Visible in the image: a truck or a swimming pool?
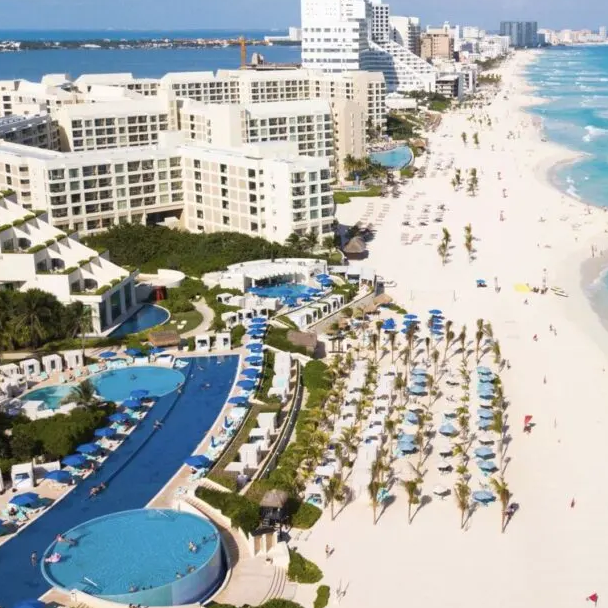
swimming pool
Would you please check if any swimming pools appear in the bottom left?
Yes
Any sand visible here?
Yes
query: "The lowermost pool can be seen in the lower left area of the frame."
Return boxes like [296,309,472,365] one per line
[39,506,236,608]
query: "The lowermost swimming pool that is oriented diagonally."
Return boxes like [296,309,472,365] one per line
[0,354,240,608]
